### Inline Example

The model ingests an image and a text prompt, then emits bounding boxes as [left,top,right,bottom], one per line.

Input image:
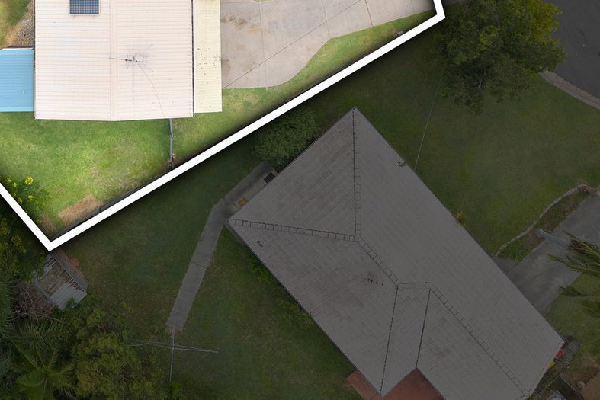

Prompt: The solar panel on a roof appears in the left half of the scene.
[69,0,99,14]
